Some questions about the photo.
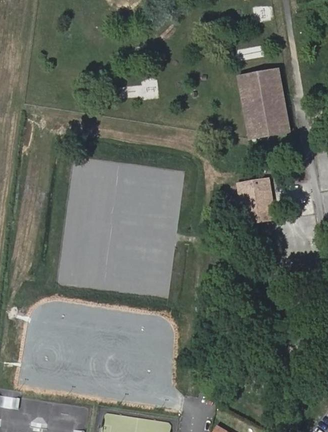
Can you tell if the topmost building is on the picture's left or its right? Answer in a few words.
right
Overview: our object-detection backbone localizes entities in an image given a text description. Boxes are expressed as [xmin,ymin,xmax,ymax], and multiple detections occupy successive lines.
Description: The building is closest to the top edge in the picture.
[236,68,292,139]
